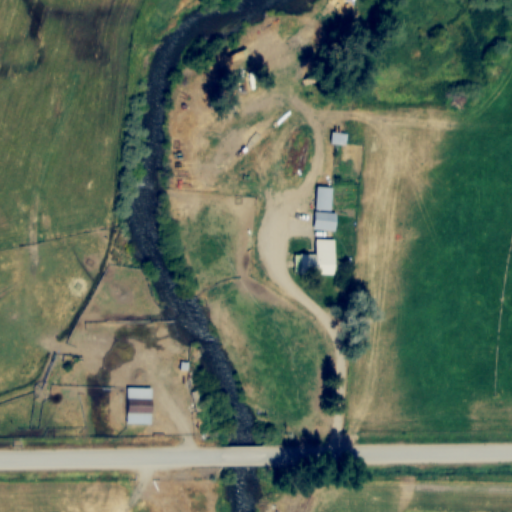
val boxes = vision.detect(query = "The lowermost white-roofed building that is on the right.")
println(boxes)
[296,240,338,275]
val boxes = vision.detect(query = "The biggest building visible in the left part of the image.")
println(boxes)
[126,387,153,425]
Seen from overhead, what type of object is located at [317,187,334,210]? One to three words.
shed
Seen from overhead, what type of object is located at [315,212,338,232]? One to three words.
shed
